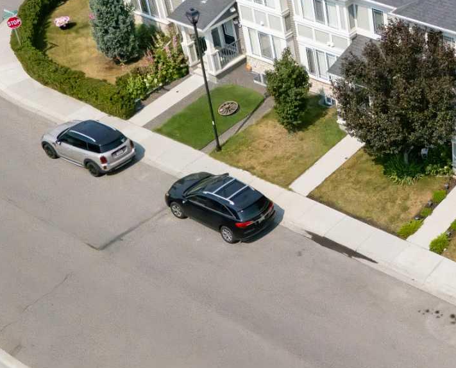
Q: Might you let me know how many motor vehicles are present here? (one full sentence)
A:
My tally gives 2 motor vehicles in this view.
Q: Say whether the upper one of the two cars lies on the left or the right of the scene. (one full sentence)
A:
The upper one of the two cars is on the left side of the image.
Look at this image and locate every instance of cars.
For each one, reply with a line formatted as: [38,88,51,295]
[42,117,135,181]
[162,172,275,248]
